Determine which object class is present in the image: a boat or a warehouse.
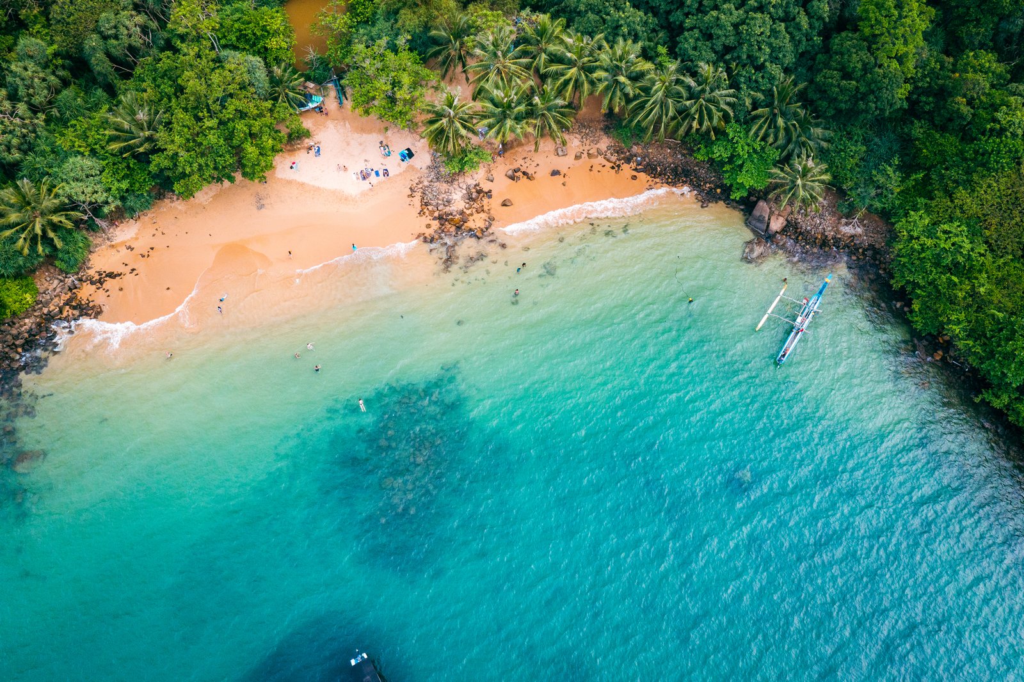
boat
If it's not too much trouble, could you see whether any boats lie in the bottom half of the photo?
Yes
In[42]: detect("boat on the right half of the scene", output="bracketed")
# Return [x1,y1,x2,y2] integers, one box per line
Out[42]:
[762,277,830,363]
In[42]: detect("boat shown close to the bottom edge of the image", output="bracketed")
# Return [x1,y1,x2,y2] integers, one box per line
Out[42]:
[346,650,380,682]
